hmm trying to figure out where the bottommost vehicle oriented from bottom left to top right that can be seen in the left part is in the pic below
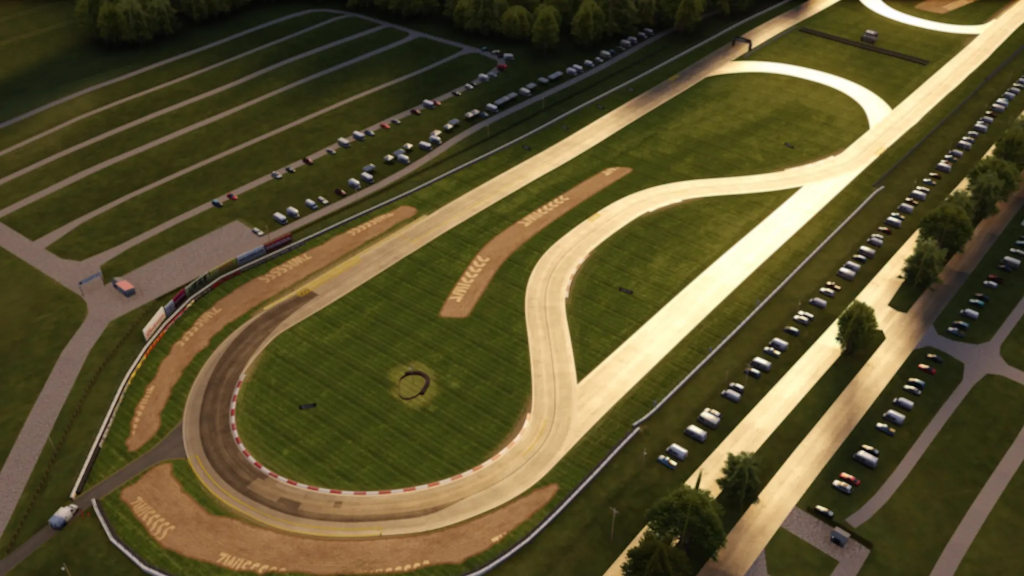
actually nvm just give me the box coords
[41,500,82,532]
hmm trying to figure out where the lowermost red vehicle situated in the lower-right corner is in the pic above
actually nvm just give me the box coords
[838,472,861,487]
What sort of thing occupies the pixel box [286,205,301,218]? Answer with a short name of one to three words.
vehicle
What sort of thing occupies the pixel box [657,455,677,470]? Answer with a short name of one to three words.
car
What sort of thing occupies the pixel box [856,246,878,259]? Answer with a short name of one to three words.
vehicle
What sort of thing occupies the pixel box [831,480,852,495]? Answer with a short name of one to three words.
car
